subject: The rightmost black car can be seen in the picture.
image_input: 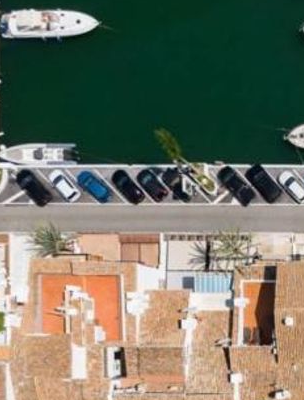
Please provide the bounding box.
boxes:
[247,166,282,203]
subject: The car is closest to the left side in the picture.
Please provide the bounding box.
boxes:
[20,169,54,207]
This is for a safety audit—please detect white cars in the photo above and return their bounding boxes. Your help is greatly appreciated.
[52,171,81,202]
[279,170,304,205]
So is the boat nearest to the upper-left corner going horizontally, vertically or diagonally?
horizontally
